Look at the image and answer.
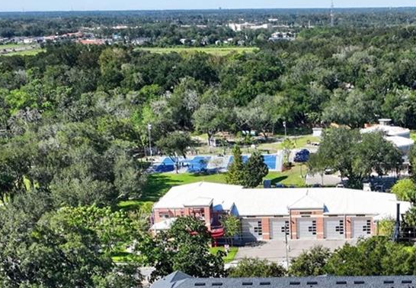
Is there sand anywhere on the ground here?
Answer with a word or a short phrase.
No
